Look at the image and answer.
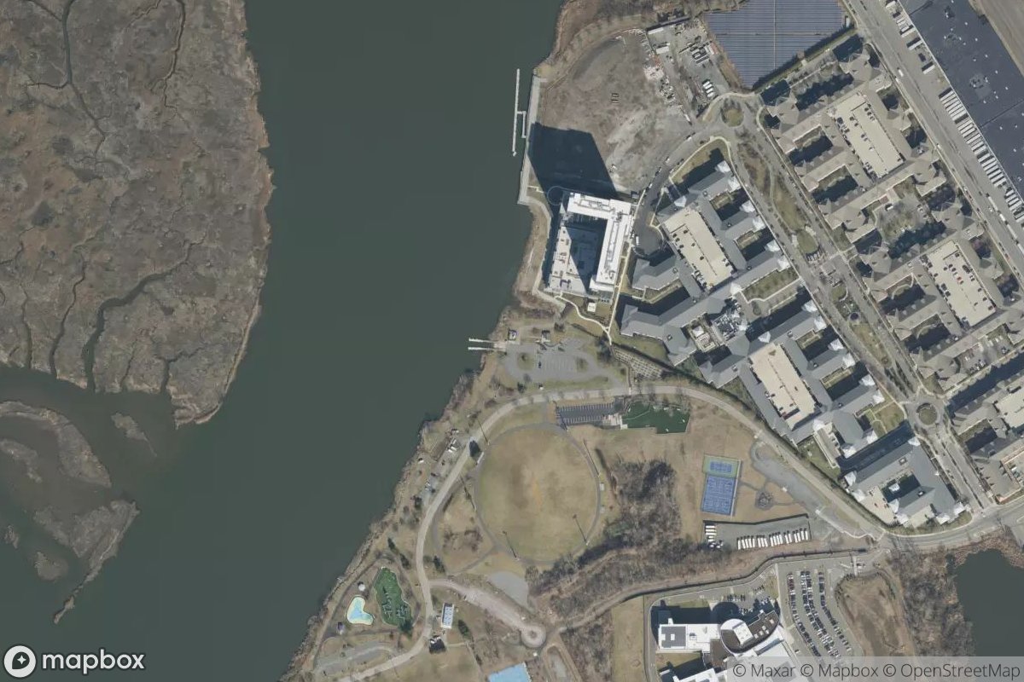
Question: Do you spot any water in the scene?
Yes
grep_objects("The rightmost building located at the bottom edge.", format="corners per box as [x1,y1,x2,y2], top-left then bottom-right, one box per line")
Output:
[655,611,803,682]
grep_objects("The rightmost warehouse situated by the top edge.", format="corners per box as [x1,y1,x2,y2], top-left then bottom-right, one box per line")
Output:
[898,0,1024,207]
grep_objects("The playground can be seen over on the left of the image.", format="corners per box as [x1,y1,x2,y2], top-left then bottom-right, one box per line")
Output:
[375,569,412,626]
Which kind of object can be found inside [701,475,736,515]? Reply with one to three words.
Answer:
tennis court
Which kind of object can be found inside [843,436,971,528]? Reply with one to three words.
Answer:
building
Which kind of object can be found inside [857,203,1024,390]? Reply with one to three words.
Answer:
building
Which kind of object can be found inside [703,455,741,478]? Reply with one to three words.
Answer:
sports court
